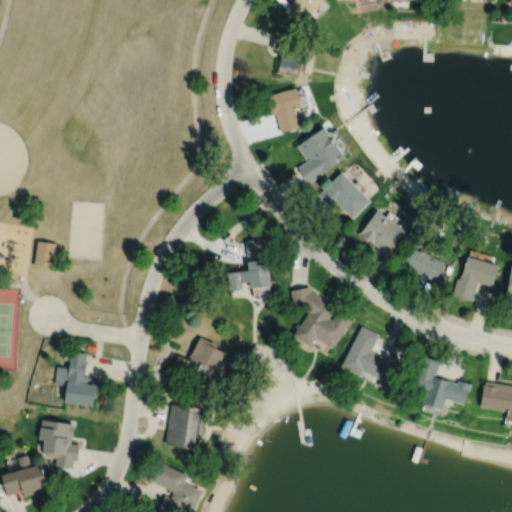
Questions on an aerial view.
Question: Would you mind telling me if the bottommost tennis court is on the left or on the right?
left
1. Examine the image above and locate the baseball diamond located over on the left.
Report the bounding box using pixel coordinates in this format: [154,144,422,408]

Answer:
[0,124,28,195]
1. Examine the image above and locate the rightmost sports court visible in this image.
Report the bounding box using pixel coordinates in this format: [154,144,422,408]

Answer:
[70,202,105,259]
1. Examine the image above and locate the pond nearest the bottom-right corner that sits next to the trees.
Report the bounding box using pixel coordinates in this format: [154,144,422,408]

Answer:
[228,408,512,512]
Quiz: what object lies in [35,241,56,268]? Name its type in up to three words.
building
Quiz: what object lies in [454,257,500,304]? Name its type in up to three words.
house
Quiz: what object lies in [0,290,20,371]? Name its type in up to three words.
tennis court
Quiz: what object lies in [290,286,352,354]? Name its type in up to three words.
house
